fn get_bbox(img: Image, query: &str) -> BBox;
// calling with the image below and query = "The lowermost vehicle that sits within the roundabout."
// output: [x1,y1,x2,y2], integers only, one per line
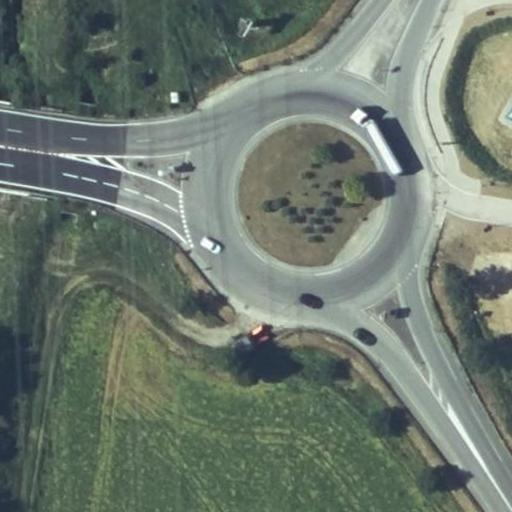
[300,294,324,308]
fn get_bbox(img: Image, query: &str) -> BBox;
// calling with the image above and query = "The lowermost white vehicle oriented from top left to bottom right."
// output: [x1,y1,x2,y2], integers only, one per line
[200,236,222,254]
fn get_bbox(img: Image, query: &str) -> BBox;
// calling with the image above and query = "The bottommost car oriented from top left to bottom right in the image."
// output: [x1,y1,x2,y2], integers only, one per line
[354,328,376,346]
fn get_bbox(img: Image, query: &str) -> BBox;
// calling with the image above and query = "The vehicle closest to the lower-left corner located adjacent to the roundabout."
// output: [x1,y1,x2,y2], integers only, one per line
[240,322,270,348]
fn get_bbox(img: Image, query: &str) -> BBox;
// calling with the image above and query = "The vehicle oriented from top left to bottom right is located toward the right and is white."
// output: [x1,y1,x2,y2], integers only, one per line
[351,108,404,174]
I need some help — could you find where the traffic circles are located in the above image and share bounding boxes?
[190,72,434,318]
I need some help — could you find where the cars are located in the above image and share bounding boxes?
[300,294,324,308]
[200,236,222,254]
[354,328,376,346]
